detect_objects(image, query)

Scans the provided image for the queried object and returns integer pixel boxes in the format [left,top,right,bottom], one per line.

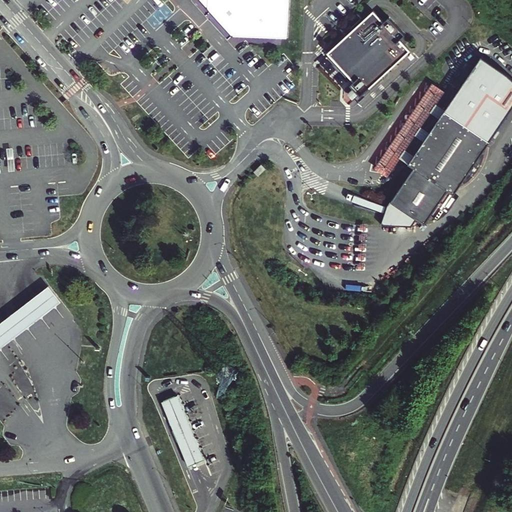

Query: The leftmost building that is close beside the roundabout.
[162,394,211,476]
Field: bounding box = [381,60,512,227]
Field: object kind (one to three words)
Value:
warehouse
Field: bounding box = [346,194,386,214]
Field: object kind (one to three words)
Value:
vehicle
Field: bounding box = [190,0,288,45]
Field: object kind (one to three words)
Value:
building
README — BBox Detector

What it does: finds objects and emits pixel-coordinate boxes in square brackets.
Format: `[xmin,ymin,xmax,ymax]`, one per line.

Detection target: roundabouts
[68,153,228,408]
